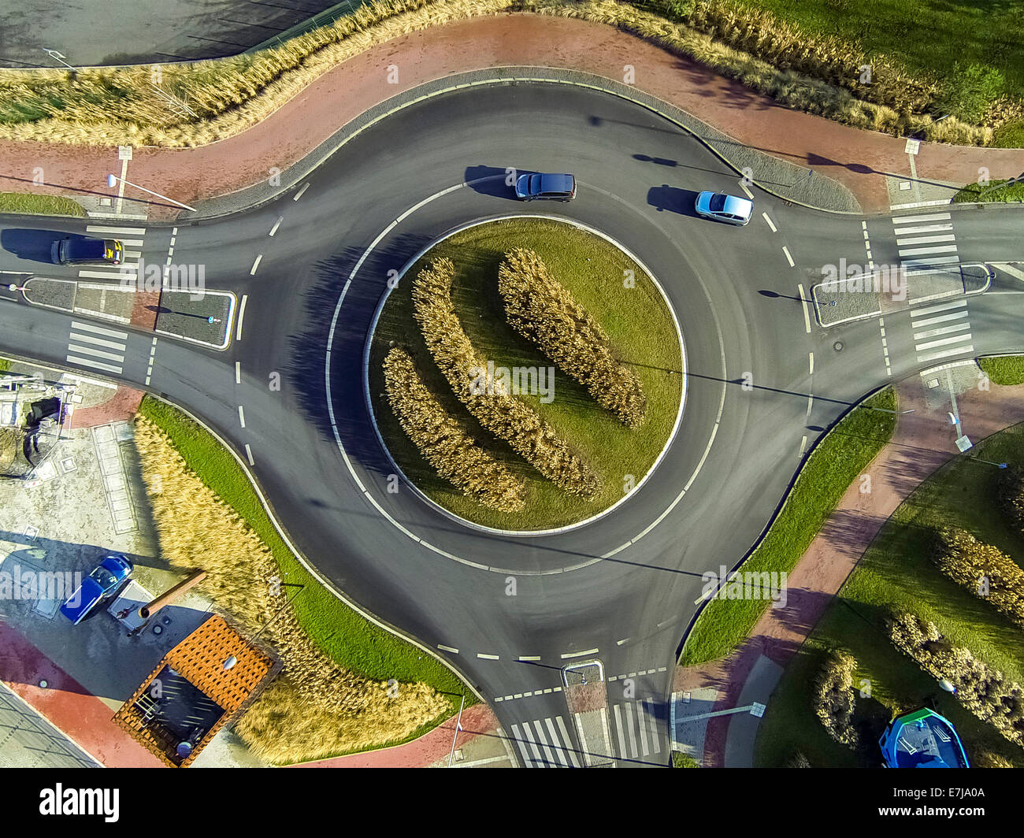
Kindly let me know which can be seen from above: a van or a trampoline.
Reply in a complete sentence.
This aerial view contains a van.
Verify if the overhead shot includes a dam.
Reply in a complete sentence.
No, this view has no dam in it.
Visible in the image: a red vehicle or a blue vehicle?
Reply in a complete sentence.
This aerial view contains a blue vehicle.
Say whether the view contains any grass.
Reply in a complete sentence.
Yes, grass can be seen from above here.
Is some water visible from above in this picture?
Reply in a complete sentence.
No, no water is visible.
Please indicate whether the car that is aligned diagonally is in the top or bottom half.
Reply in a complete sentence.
Seen from above, the car that is aligned diagonally lies in the bottom half of the view.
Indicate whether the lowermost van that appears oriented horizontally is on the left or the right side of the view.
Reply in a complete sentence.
The lowermost van that appears oriented horizontally is on the left side of the image.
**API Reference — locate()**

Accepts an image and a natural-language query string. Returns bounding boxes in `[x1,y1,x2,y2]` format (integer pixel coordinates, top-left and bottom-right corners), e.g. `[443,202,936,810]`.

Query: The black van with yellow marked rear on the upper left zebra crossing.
[53,234,126,268]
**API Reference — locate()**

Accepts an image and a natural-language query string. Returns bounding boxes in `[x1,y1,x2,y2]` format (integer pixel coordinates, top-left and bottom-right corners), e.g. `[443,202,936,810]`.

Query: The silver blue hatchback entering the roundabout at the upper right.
[697,189,759,225]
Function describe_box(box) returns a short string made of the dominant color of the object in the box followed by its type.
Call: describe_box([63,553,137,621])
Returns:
blue car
